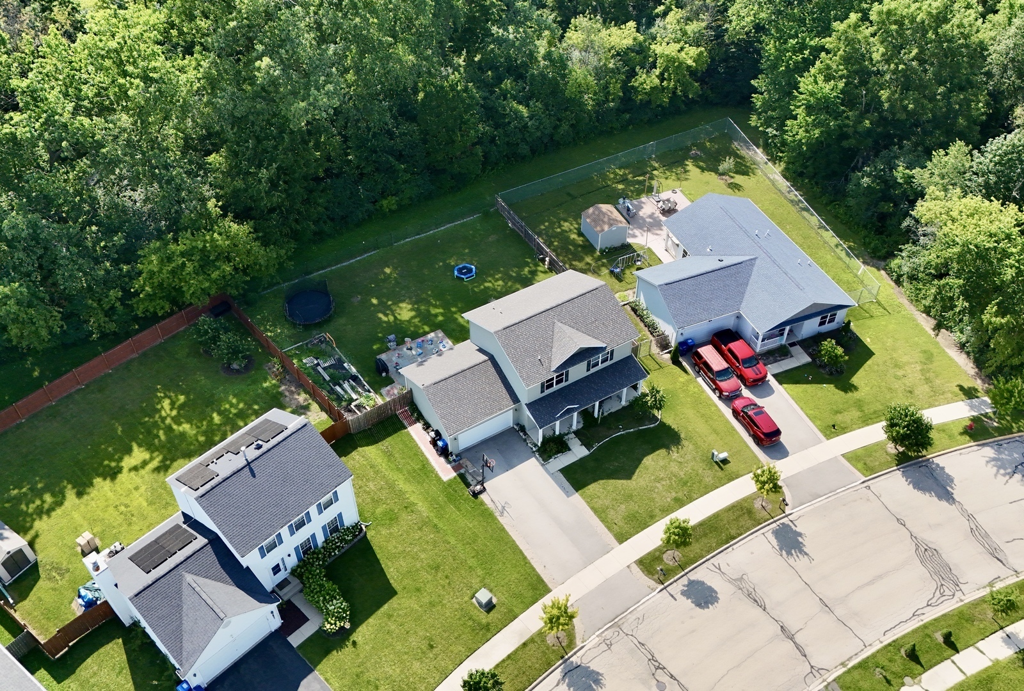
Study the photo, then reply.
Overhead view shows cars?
Yes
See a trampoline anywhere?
Yes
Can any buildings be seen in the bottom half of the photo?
Yes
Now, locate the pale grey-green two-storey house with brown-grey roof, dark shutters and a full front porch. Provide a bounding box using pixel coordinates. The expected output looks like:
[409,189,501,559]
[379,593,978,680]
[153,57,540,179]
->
[399,269,649,454]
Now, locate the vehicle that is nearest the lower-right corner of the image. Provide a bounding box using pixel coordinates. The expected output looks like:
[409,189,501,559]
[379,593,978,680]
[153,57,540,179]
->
[731,394,782,442]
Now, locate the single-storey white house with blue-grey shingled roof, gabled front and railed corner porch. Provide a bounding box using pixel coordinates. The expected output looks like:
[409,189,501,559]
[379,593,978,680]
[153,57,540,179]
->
[633,193,858,354]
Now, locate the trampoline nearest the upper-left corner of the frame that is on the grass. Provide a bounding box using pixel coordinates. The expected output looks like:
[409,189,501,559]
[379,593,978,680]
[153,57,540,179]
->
[283,270,334,323]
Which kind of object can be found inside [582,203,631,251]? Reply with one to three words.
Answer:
shed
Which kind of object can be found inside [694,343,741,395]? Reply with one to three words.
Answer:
car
